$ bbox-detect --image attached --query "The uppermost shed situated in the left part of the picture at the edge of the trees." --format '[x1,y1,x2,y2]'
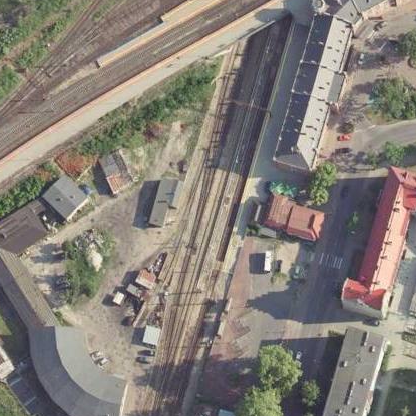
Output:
[100,150,132,194]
